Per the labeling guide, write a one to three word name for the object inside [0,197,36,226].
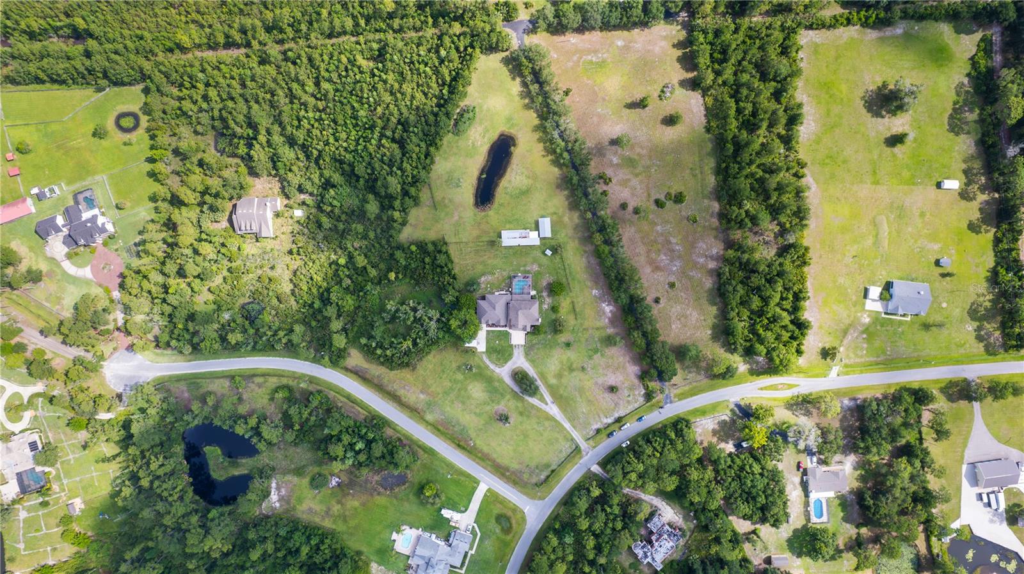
barn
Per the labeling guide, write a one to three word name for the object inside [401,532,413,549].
swimming pool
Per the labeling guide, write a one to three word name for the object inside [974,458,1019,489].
building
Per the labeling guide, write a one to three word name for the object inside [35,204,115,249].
house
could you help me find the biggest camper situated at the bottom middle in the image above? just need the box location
[440,510,460,524]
